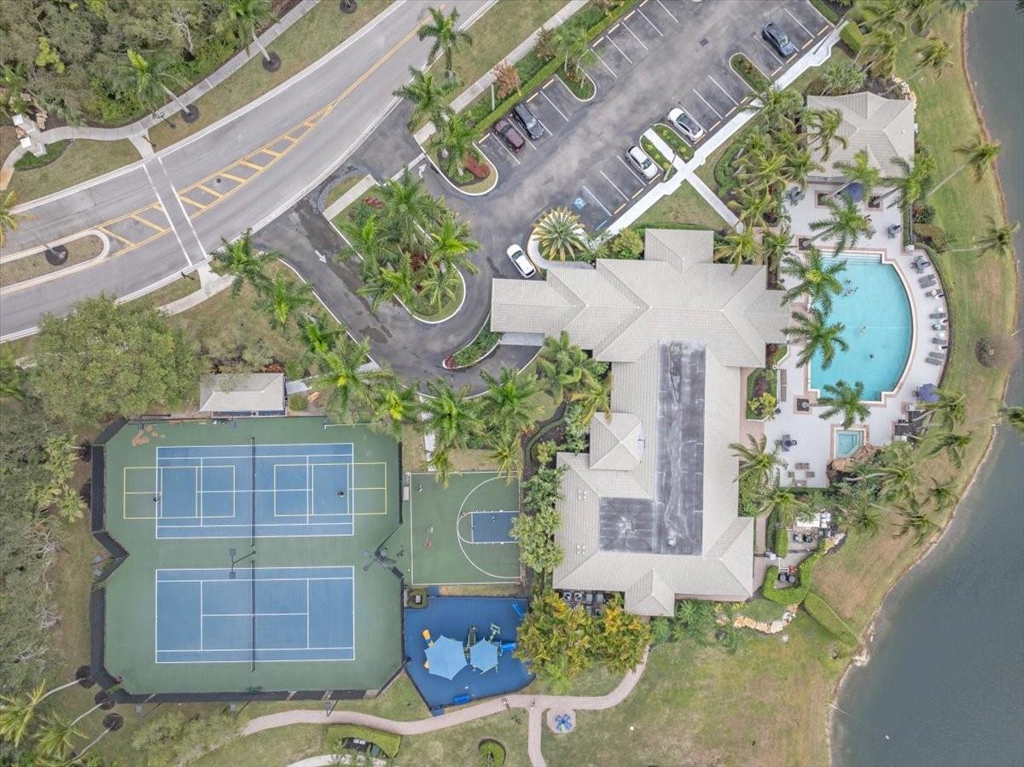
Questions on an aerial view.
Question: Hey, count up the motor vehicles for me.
6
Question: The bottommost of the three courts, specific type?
tennis court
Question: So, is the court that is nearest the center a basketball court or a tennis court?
basketball court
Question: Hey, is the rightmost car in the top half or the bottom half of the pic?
top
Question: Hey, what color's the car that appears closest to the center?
white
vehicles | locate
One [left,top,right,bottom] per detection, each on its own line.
[503,240,538,280]
[491,115,529,152]
[624,141,661,180]
[509,98,548,139]
[668,104,707,141]
[762,17,797,58]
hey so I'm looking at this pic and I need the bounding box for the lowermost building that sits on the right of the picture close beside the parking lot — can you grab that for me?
[492,229,790,615]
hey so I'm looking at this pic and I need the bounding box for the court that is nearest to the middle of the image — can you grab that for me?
[404,471,523,586]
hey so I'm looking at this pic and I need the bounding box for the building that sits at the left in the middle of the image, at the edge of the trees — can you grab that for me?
[200,373,286,417]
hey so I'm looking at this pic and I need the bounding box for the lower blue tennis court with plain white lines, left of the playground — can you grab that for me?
[104,553,409,694]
